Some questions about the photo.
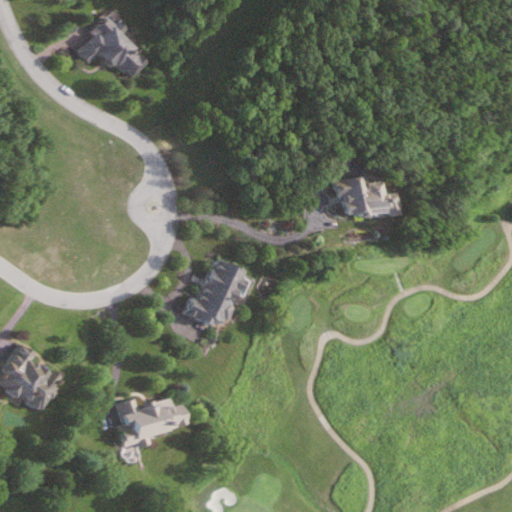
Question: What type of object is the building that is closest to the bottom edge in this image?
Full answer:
The building that is closest to the bottom edge appears to be a residential house.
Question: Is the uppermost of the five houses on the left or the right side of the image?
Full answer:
You can find the uppermost of the five houses on the left side of the picture.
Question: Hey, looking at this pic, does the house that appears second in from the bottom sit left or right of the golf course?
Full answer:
Looking at the picture, you'll find the house that appears second in from the bottom to the left of the golf course.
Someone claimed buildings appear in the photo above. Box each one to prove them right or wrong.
[0,342,60,410]
[114,395,192,448]
[328,174,403,222]
[76,8,142,70]
[180,262,256,326]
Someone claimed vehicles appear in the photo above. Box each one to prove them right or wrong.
[100,418,108,431]
[324,221,337,228]
[58,84,74,97]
